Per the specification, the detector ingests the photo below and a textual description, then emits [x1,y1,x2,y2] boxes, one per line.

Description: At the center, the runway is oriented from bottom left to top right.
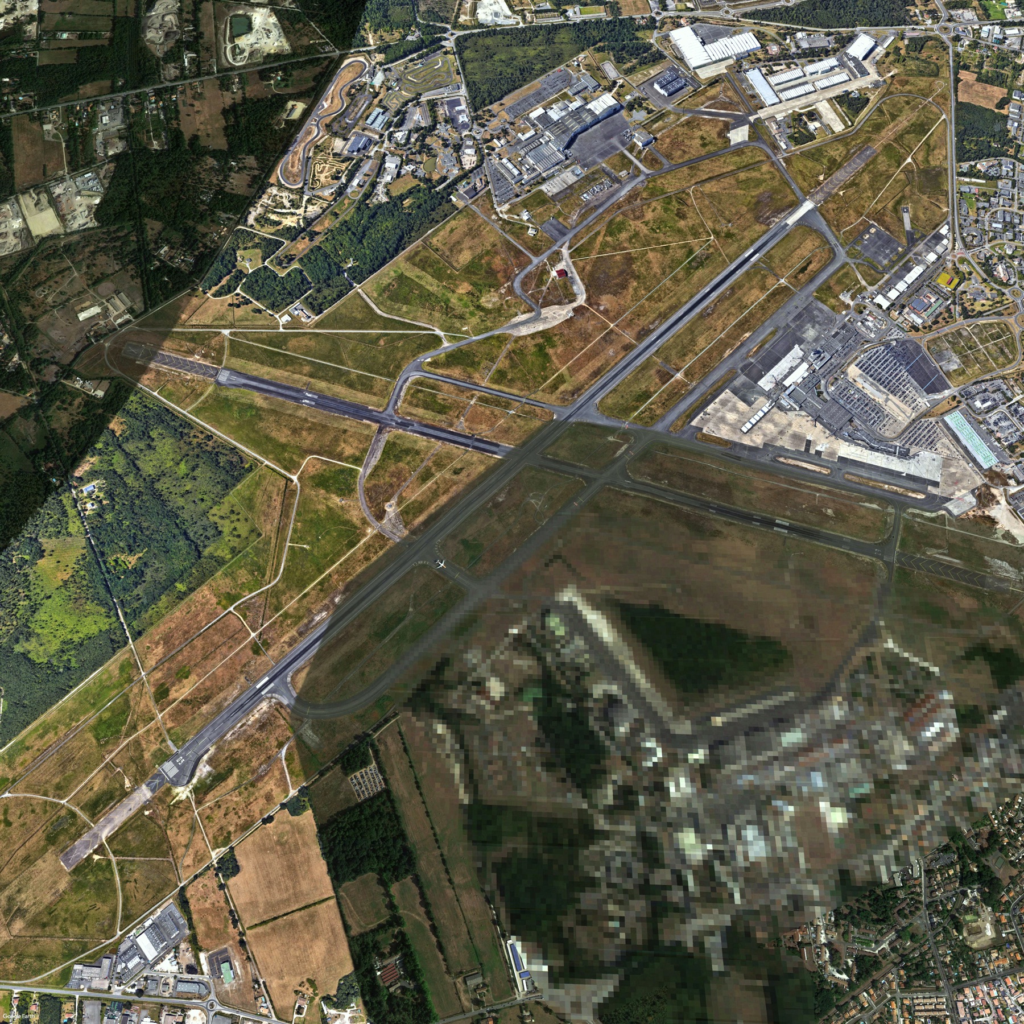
[59,90,938,870]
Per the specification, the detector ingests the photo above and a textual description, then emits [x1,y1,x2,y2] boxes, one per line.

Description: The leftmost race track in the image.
[277,57,374,189]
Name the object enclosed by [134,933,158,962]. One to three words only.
building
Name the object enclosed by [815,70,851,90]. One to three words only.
hangar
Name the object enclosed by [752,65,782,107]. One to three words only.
hangar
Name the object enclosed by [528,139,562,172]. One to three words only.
building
